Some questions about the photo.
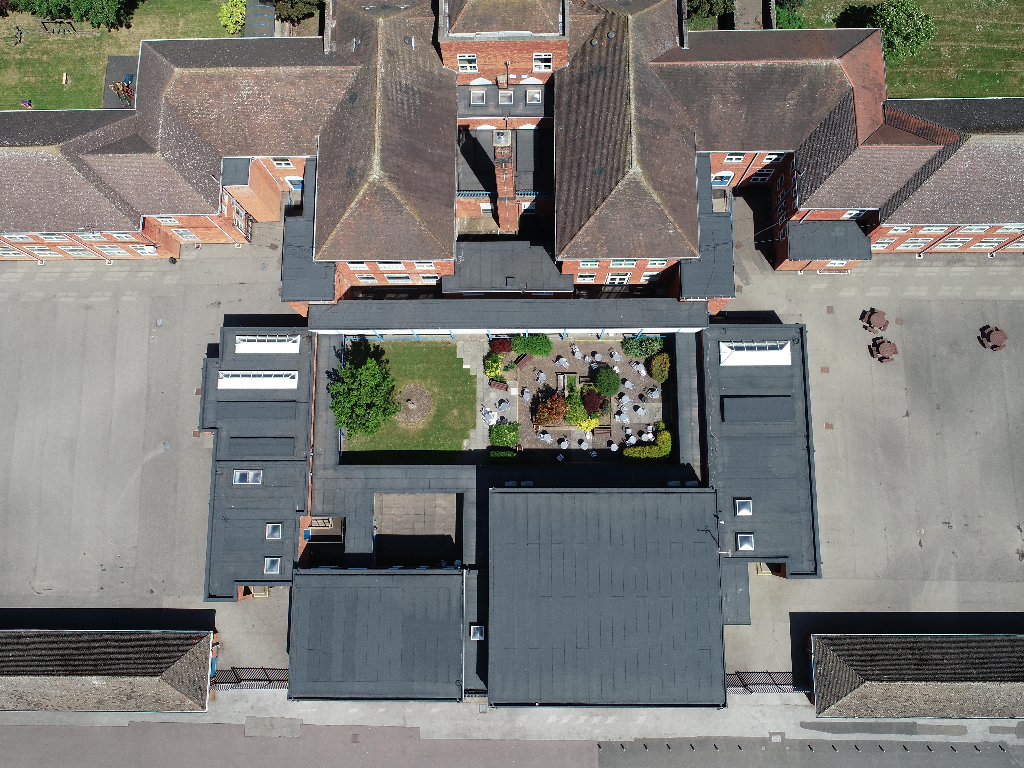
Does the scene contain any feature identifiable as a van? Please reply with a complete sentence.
No, there appears to be no van in this shot.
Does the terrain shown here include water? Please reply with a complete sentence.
No, there's no water in this view.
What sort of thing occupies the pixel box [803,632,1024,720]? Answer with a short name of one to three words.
building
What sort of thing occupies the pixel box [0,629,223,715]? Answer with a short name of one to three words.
building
